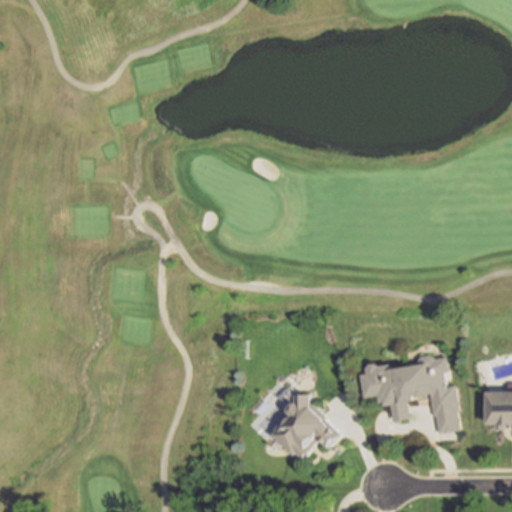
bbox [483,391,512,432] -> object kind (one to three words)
house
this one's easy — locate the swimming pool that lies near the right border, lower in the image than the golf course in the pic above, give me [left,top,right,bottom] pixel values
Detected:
[476,354,512,389]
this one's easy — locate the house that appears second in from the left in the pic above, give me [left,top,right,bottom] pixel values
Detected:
[359,354,462,434]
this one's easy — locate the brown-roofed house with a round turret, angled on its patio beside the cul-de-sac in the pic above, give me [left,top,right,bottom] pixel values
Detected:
[267,392,345,462]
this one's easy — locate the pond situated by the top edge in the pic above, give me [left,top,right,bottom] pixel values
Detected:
[156,16,512,159]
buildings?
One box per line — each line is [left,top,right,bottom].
[359,354,462,434]
[483,391,512,432]
[267,392,345,462]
